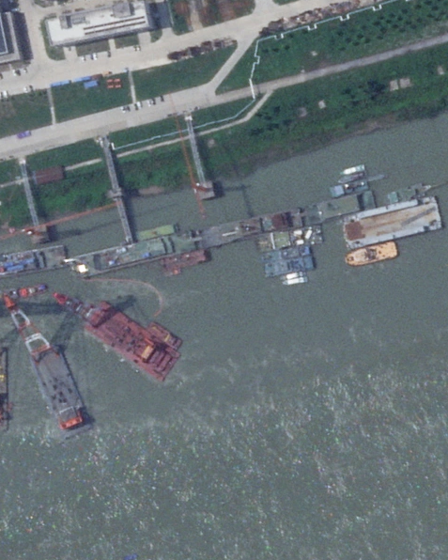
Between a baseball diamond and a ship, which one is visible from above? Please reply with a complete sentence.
It is a ship that can be seen here.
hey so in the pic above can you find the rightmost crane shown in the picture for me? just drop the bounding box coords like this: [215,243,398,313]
[168,89,209,220]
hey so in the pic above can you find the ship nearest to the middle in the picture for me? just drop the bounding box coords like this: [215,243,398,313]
[162,250,207,276]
